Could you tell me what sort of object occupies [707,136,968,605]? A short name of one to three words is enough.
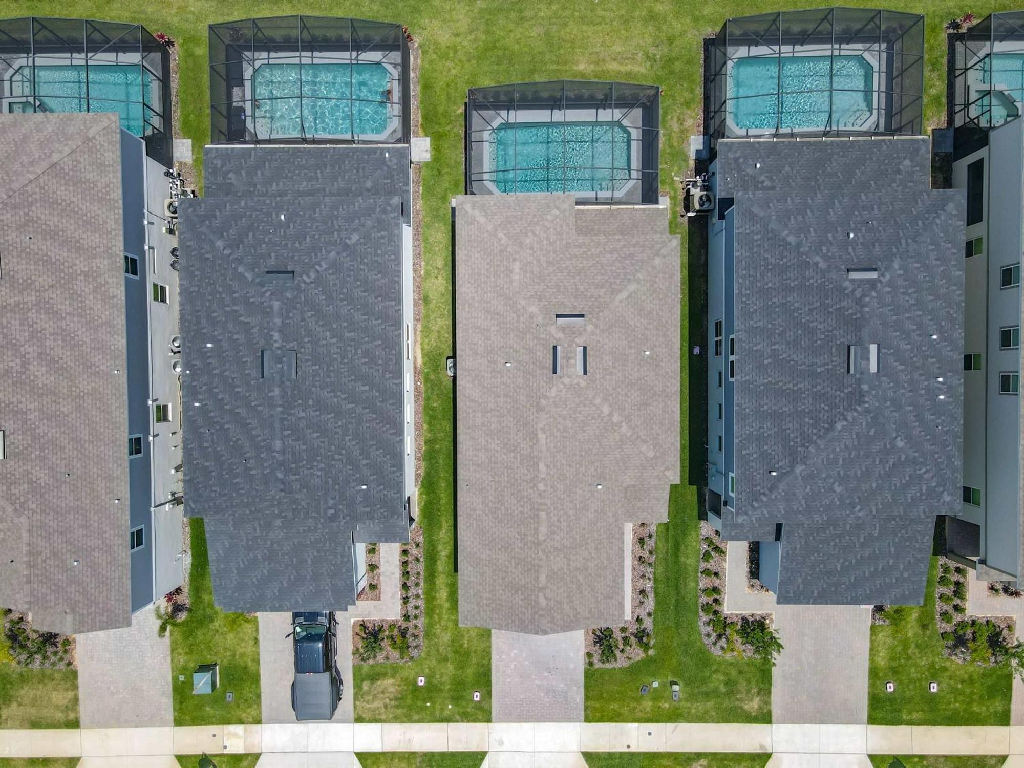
house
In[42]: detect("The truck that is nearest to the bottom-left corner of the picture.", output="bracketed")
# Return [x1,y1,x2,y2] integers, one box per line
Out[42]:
[285,612,344,719]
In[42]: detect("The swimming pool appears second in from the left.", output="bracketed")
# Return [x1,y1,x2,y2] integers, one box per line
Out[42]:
[245,53,398,139]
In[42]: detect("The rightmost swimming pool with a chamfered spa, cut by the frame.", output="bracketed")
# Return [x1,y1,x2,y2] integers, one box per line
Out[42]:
[966,42,1024,134]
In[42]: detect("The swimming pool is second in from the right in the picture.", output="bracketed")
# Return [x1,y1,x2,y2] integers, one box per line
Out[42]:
[728,45,880,133]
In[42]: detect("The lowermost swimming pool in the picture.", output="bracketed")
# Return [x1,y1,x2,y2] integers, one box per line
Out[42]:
[482,110,638,198]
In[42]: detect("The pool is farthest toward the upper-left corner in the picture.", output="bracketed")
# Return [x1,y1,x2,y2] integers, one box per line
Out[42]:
[0,53,159,140]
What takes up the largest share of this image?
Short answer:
buildings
